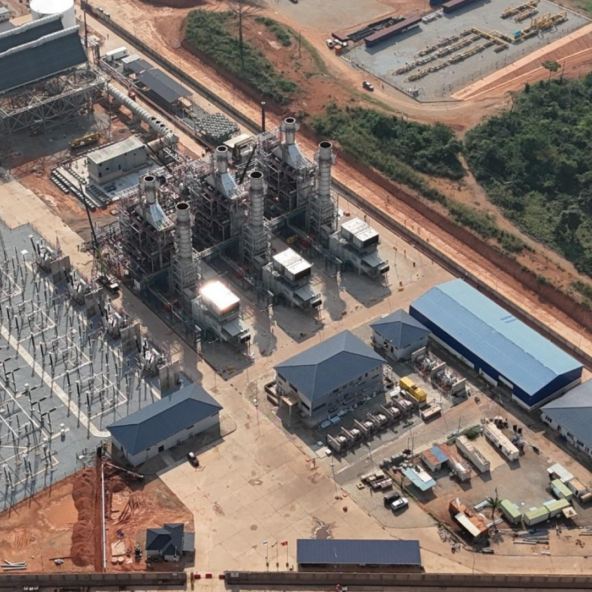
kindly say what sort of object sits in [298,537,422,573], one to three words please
shed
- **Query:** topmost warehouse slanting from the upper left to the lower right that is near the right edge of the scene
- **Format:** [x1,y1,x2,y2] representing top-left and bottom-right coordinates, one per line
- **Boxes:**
[408,277,585,410]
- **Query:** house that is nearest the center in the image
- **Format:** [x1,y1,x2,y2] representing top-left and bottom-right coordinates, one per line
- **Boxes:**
[255,248,334,315]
